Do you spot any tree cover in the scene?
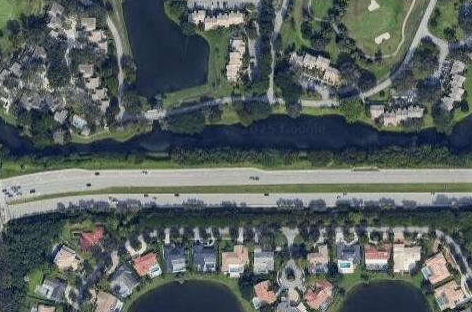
Yes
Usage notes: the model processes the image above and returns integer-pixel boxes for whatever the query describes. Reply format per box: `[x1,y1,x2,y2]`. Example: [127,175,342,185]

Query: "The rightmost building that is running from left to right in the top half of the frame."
[370,103,423,127]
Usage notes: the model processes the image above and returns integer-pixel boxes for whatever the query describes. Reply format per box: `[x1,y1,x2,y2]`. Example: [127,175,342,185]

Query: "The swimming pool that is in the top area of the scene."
[70,113,88,129]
